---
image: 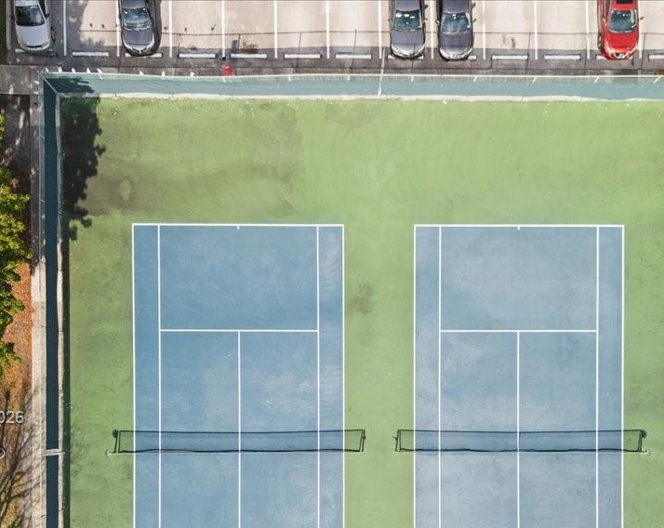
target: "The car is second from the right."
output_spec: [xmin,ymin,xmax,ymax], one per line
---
[436,0,479,62]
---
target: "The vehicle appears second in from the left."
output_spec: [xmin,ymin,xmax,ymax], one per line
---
[114,0,158,58]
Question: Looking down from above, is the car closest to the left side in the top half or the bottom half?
top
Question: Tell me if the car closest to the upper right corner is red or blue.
red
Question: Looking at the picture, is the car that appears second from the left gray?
Yes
